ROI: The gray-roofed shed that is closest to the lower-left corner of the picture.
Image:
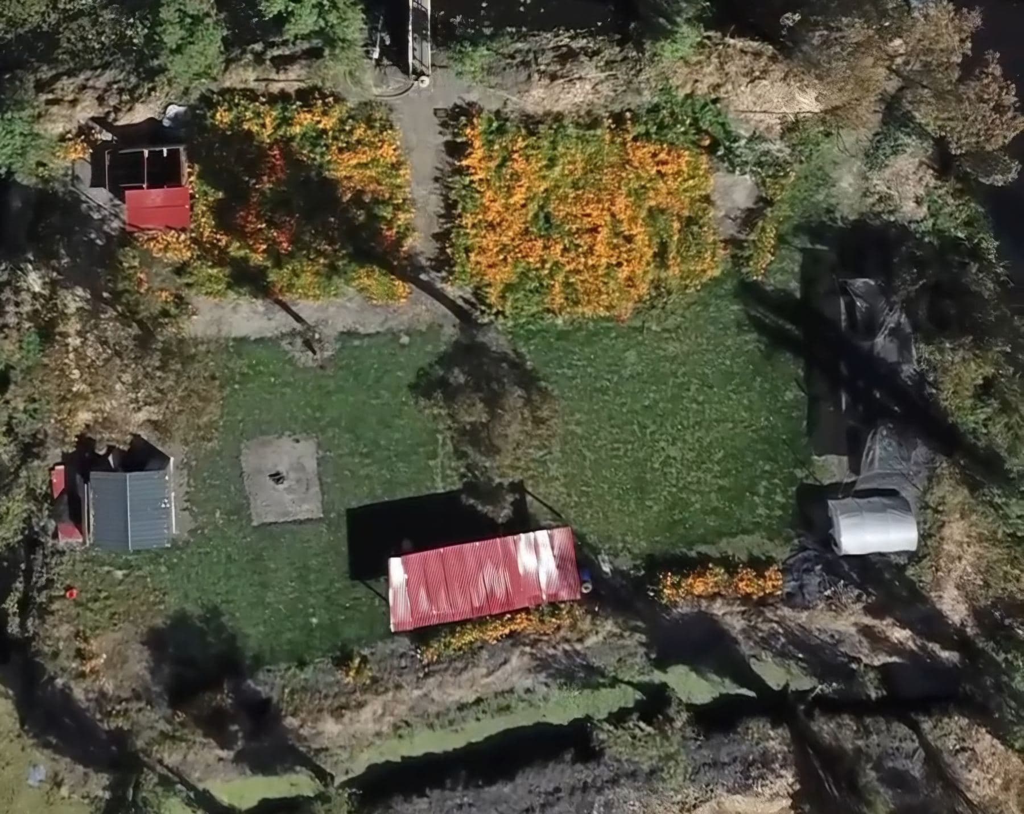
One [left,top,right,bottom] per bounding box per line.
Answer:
[89,458,172,553]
